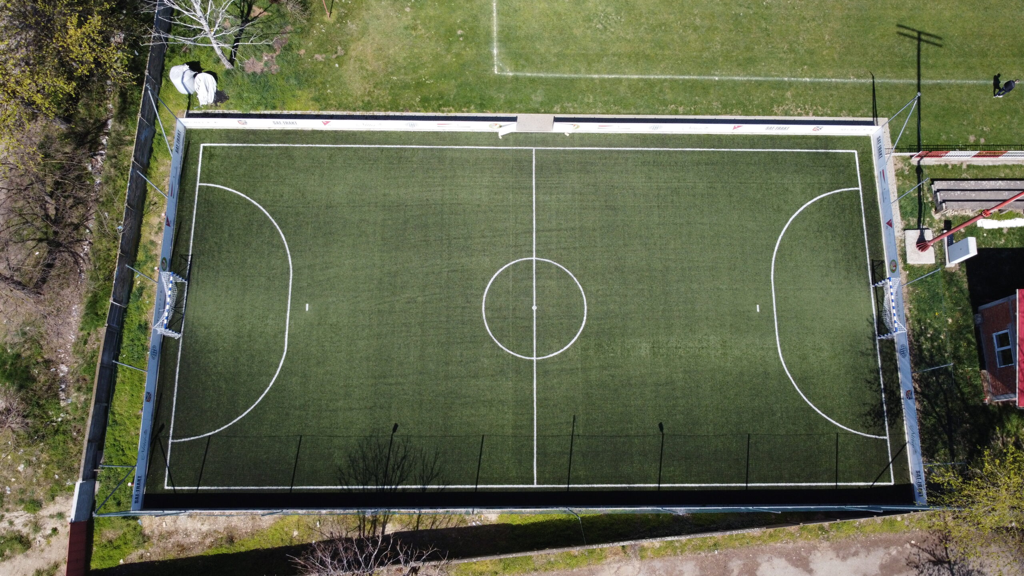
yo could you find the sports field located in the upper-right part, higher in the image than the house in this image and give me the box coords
[494,0,1024,83]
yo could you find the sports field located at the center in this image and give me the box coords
[144,129,916,508]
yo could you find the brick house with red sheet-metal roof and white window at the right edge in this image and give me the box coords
[971,285,1024,407]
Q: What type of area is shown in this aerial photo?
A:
sports ground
